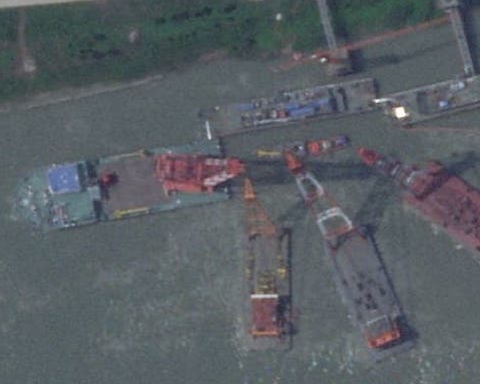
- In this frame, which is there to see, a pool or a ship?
ship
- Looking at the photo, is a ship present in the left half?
Yes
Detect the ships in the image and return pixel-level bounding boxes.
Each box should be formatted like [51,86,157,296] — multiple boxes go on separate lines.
[285,150,407,350]
[16,129,276,228]
[361,146,480,252]
[241,175,304,344]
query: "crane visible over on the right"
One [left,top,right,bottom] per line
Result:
[276,20,450,70]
